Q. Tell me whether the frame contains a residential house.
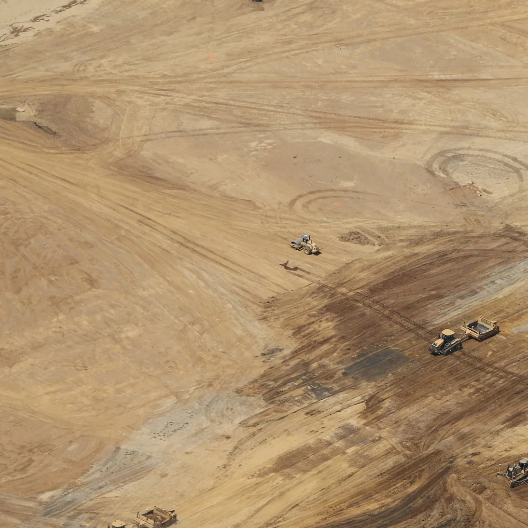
No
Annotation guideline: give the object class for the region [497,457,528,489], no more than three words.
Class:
work vehicle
